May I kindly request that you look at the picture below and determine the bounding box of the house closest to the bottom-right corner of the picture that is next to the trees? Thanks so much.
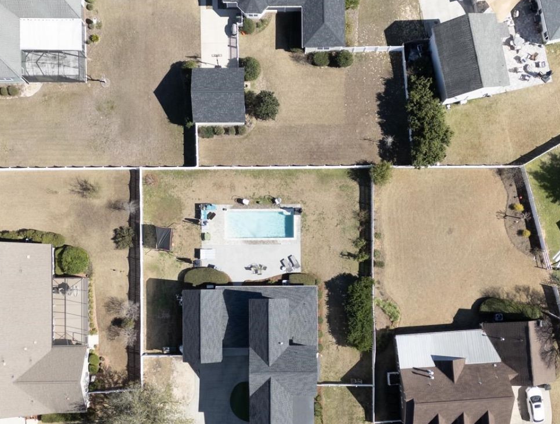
[387,320,556,424]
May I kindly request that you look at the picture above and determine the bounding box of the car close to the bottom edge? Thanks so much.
[521,385,539,420]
